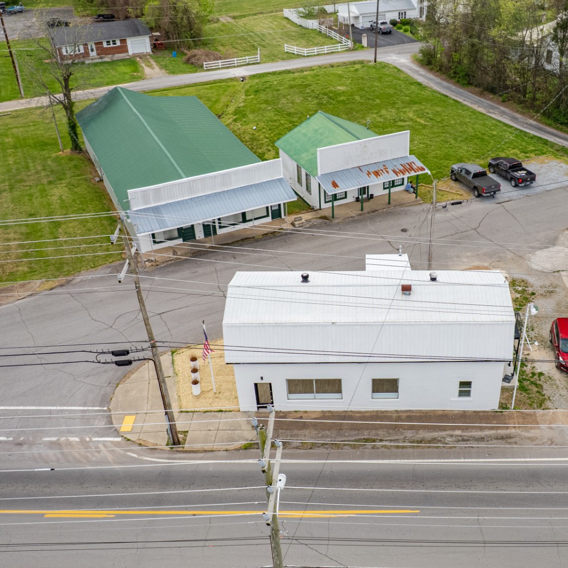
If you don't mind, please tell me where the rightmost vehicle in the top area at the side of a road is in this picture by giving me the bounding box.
[484,149,546,187]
